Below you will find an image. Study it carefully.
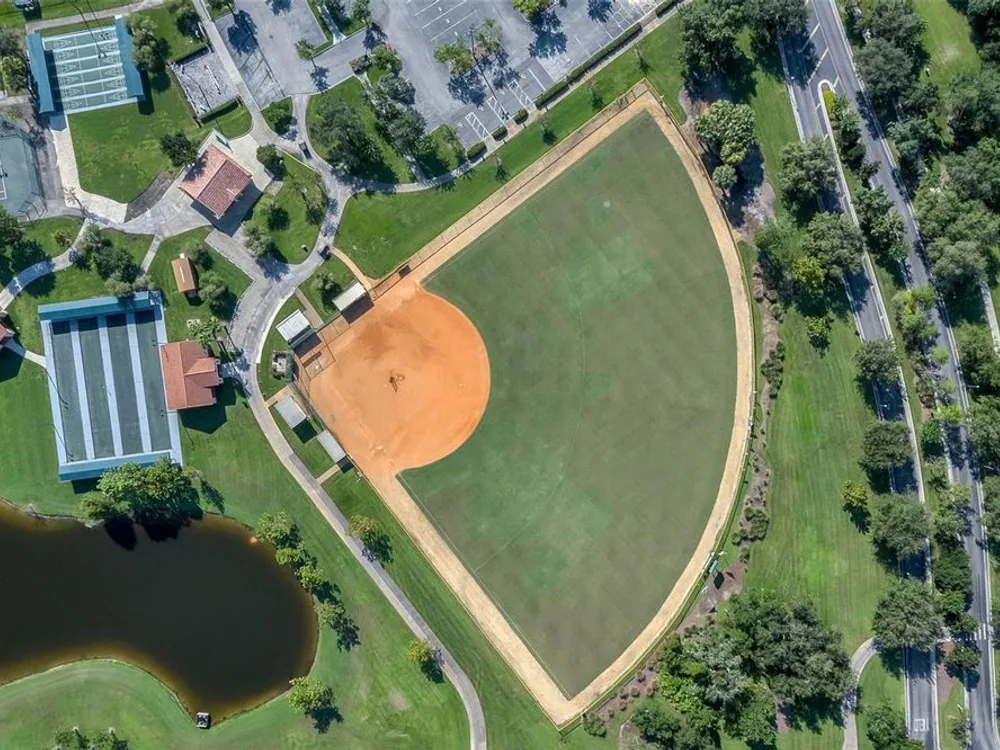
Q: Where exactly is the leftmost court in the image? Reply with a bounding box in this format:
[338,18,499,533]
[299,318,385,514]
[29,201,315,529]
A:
[0,116,46,222]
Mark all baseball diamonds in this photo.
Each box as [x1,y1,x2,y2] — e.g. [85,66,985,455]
[296,80,752,726]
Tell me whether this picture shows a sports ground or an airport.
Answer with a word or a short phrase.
sports ground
